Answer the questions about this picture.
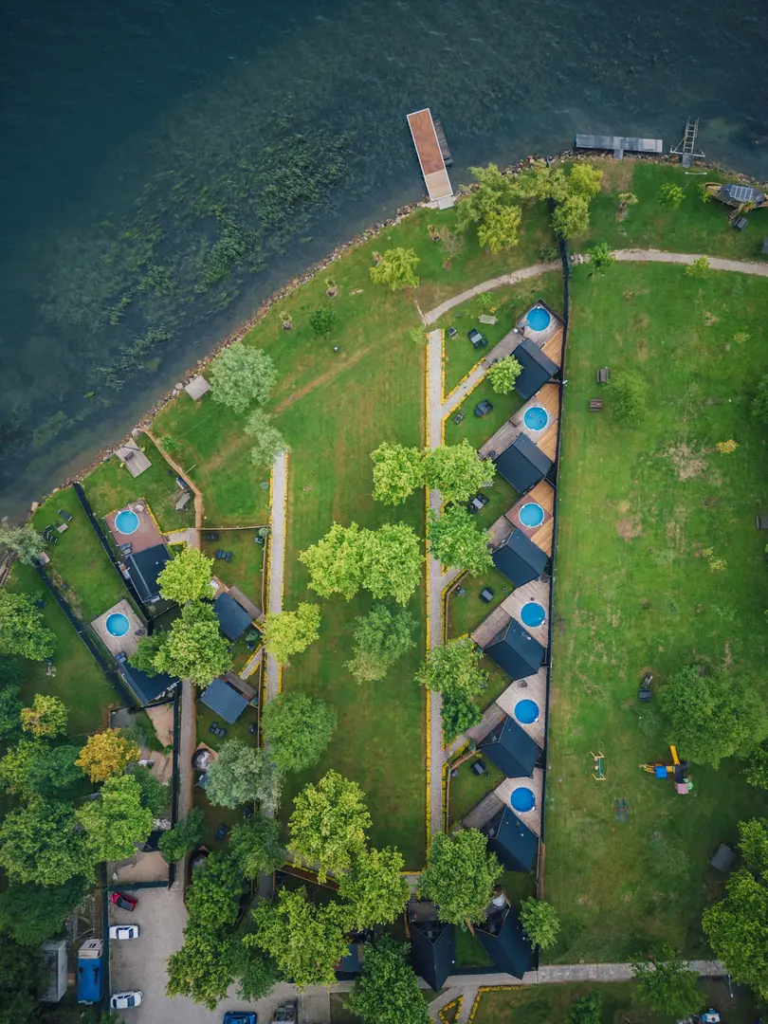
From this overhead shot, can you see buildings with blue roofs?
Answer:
Yes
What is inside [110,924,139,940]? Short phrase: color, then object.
white car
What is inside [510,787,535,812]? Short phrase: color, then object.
blue swimming pool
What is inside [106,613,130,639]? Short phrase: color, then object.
blue swimming pool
